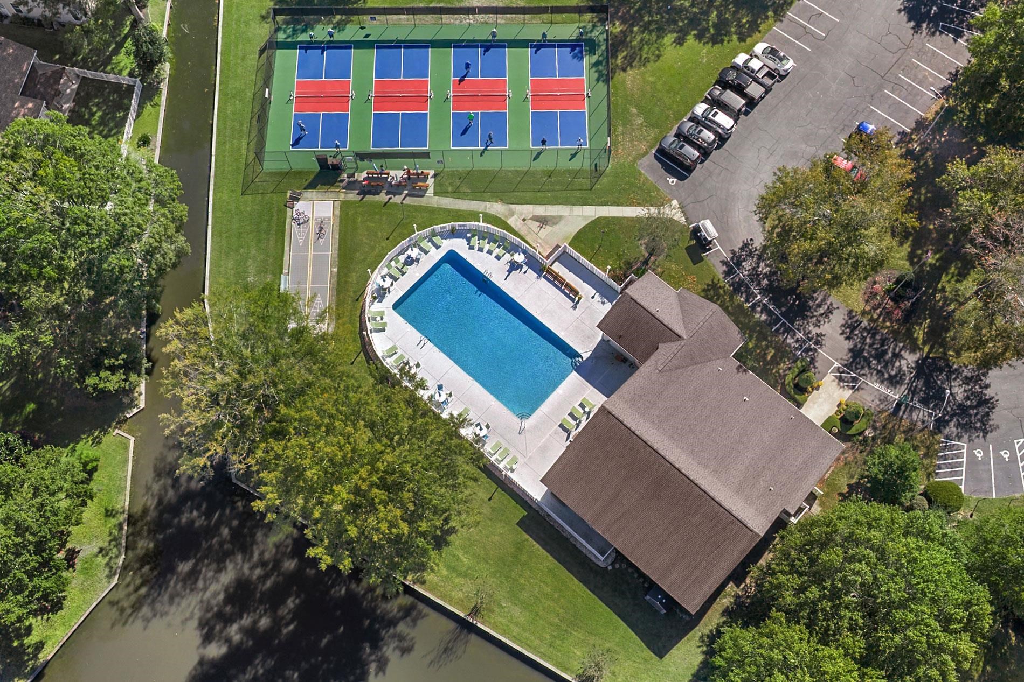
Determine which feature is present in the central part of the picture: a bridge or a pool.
pool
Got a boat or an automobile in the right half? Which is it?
automobile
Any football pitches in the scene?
No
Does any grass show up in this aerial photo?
Yes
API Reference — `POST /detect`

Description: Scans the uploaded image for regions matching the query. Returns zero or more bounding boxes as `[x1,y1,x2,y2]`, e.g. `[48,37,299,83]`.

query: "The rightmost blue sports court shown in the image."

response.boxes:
[529,42,588,147]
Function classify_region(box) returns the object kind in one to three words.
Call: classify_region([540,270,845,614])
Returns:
building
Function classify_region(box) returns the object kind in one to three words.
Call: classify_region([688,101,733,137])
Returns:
car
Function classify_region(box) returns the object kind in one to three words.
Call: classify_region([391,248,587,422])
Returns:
swimming pool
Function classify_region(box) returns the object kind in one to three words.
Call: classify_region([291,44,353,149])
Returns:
sports court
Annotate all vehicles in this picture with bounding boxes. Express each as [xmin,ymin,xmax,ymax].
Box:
[749,39,794,74]
[848,120,882,153]
[657,134,701,169]
[673,118,717,153]
[732,51,782,91]
[705,85,748,119]
[719,67,770,108]
[688,101,733,137]
[696,219,719,247]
